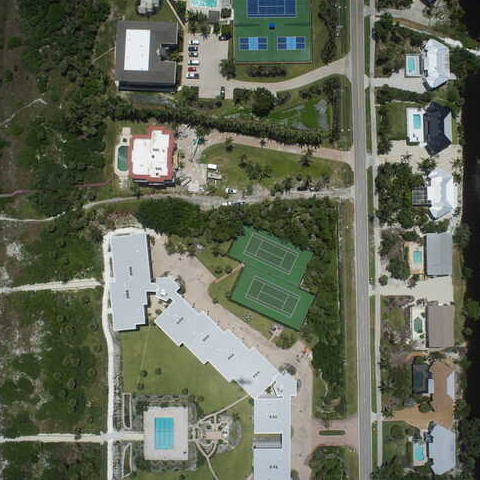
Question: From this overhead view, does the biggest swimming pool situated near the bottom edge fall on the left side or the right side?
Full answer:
It is on the left.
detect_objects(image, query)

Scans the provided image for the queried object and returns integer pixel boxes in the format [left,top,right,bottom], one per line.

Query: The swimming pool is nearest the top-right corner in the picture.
[405,54,420,76]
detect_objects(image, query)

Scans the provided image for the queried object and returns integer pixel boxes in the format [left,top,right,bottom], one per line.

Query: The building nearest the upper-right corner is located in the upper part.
[423,39,450,88]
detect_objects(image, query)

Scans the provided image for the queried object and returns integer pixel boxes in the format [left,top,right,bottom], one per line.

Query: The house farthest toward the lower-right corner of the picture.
[429,423,456,474]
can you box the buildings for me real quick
[426,358,454,411]
[111,234,297,480]
[137,0,158,13]
[423,39,450,88]
[429,423,456,474]
[129,127,177,182]
[423,102,452,156]
[426,306,454,348]
[426,169,457,219]
[426,233,452,276]
[115,21,178,88]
